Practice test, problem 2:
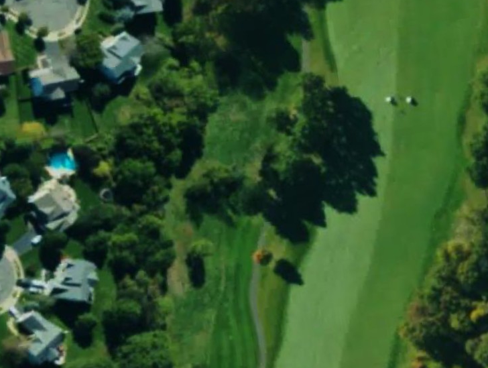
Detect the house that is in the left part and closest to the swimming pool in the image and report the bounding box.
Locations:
[26,176,81,228]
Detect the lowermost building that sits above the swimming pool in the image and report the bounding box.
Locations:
[22,56,82,104]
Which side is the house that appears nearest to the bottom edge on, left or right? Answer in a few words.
left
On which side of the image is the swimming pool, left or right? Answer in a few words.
left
